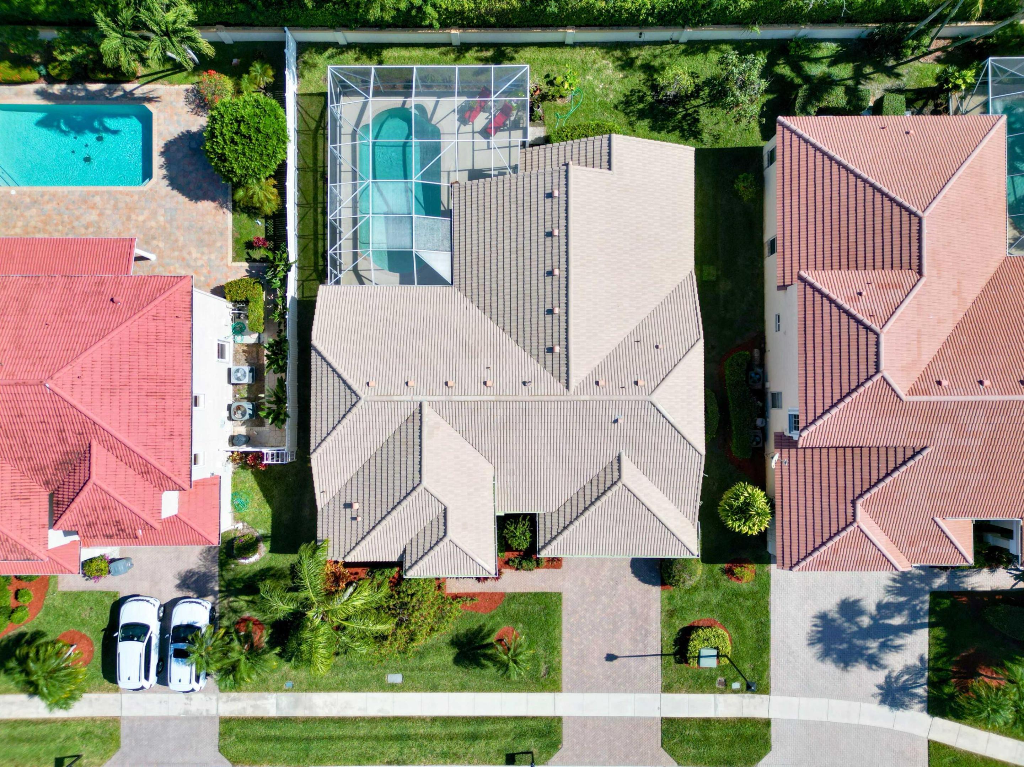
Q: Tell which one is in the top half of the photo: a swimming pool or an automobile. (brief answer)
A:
swimming pool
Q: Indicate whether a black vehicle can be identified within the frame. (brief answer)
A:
No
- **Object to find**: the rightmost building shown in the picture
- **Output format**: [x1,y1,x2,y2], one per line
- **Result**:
[762,112,1024,574]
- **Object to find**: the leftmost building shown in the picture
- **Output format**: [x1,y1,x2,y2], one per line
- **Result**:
[0,235,247,577]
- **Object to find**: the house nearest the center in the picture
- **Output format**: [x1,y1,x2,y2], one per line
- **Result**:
[309,130,708,580]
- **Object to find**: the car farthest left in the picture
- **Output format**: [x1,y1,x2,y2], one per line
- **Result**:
[114,594,168,690]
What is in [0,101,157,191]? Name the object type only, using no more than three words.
swimming pool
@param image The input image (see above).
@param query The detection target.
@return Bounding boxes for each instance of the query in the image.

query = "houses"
[0,235,247,577]
[309,130,708,580]
[762,112,1024,574]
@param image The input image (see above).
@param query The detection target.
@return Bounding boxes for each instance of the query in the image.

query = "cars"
[114,594,168,690]
[166,596,218,692]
